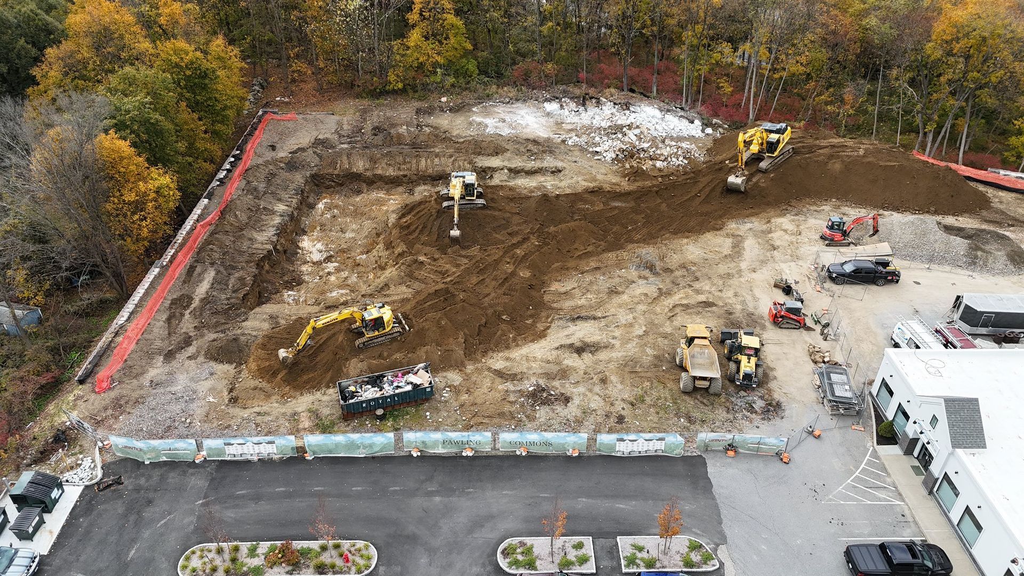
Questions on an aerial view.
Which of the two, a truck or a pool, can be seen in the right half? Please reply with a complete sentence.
What appears in the right half is a truck.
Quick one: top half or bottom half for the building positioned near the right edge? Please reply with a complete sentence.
You can find the building positioned near the right edge in the bottom half.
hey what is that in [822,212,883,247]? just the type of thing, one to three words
work vehicle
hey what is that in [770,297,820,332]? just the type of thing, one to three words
work vehicle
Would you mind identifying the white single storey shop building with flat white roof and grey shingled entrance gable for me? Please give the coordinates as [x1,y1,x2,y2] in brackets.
[870,349,1024,576]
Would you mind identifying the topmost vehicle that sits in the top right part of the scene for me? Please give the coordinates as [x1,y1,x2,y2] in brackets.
[720,121,792,190]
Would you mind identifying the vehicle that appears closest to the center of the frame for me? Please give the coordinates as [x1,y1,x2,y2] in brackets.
[442,178,482,235]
